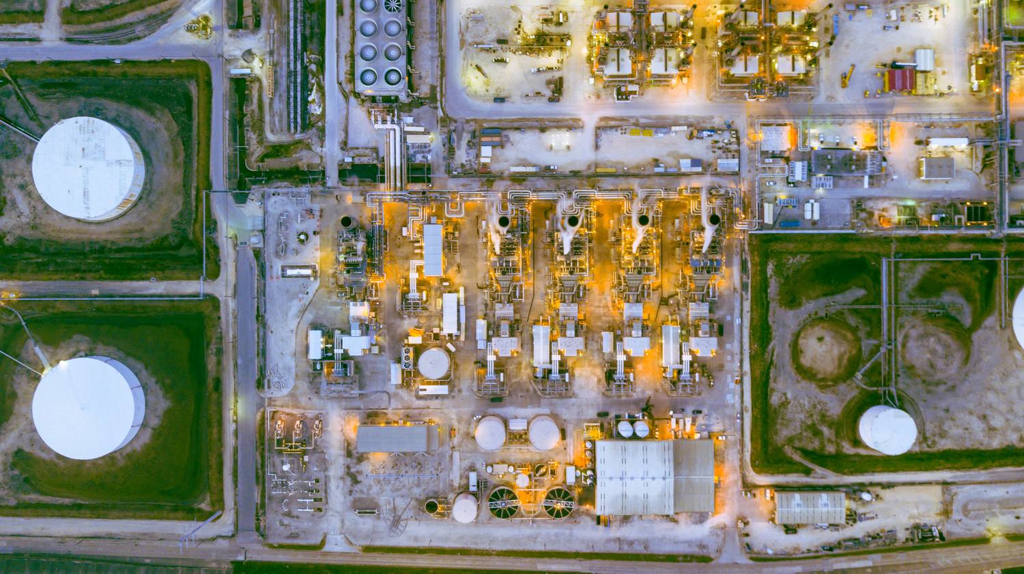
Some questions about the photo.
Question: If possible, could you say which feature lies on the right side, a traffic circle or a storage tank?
storage tank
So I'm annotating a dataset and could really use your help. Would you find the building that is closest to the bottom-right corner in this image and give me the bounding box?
[774,489,846,524]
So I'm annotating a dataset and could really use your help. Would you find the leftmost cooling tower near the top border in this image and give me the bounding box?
[354,0,416,107]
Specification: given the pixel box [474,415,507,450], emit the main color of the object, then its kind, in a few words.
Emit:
white water tank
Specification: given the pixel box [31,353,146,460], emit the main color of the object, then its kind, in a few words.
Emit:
white storage tank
